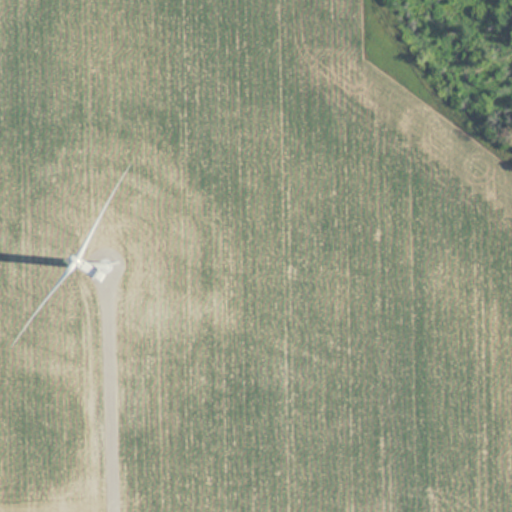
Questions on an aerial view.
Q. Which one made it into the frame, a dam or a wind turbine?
wind turbine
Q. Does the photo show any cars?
No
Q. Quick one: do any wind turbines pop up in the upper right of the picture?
No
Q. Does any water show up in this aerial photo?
No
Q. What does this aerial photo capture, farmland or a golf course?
farmland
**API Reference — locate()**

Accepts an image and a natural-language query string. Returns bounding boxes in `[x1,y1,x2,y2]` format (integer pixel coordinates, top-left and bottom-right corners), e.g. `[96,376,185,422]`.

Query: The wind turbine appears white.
[14,164,133,346]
